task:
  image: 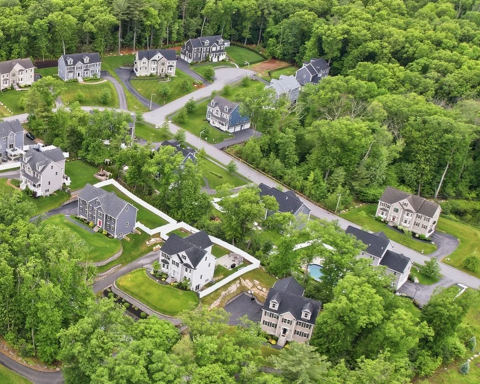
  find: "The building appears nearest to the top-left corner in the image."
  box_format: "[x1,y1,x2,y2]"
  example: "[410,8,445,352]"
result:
[0,56,35,92]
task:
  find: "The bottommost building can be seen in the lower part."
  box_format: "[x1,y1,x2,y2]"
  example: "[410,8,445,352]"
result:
[260,263,321,346]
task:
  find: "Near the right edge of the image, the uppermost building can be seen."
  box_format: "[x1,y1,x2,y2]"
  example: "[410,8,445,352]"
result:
[376,179,460,239]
